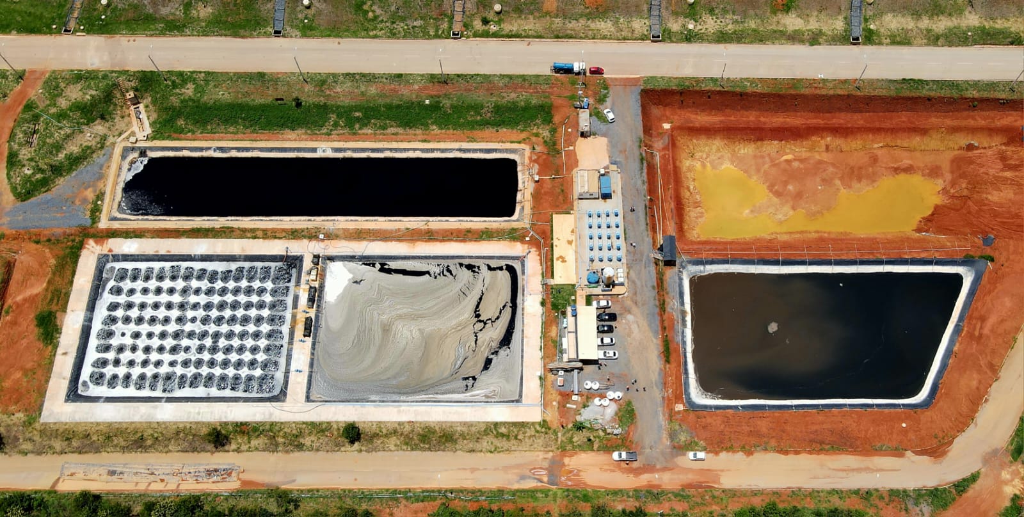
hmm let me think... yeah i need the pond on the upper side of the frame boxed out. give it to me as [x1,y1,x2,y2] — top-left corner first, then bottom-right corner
[109,146,520,223]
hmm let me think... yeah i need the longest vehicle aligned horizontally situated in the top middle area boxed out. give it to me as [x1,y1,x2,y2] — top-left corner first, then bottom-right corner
[551,60,587,74]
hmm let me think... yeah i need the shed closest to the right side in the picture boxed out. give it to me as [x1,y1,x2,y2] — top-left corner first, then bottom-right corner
[657,235,676,263]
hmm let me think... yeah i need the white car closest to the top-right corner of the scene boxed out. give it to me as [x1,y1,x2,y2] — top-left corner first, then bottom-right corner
[603,108,617,122]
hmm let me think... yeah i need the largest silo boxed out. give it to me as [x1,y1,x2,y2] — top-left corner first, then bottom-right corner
[600,269,617,296]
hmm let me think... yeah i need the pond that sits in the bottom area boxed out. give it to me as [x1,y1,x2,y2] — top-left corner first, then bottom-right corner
[675,257,989,412]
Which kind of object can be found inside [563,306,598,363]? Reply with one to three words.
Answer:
building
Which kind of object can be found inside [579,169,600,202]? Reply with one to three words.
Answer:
building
